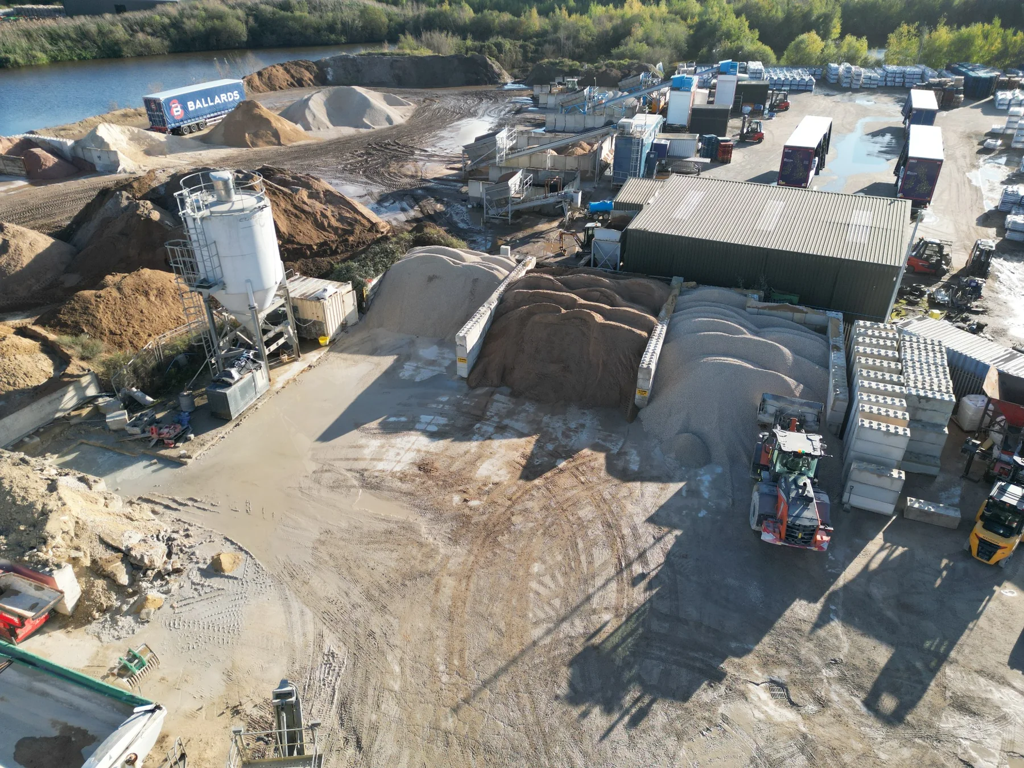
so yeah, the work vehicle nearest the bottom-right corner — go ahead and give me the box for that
[969,472,1024,567]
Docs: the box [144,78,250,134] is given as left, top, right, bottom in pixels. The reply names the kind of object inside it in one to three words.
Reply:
trailer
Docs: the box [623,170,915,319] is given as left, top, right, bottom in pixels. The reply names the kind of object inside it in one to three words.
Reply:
shed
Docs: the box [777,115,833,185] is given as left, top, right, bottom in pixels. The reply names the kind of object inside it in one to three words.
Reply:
trailer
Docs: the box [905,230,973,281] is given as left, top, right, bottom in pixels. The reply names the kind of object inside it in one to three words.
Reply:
work vehicle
